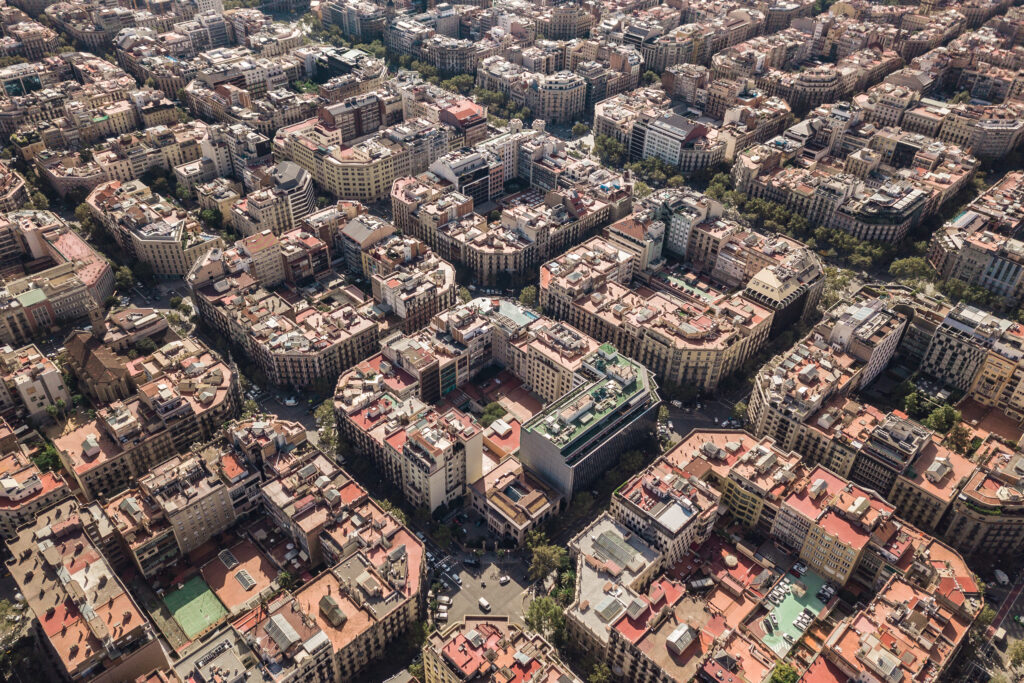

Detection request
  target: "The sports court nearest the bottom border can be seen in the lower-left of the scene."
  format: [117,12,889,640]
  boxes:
[161,574,234,647]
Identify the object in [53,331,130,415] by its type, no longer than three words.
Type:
building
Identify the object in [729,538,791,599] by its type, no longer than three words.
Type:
building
